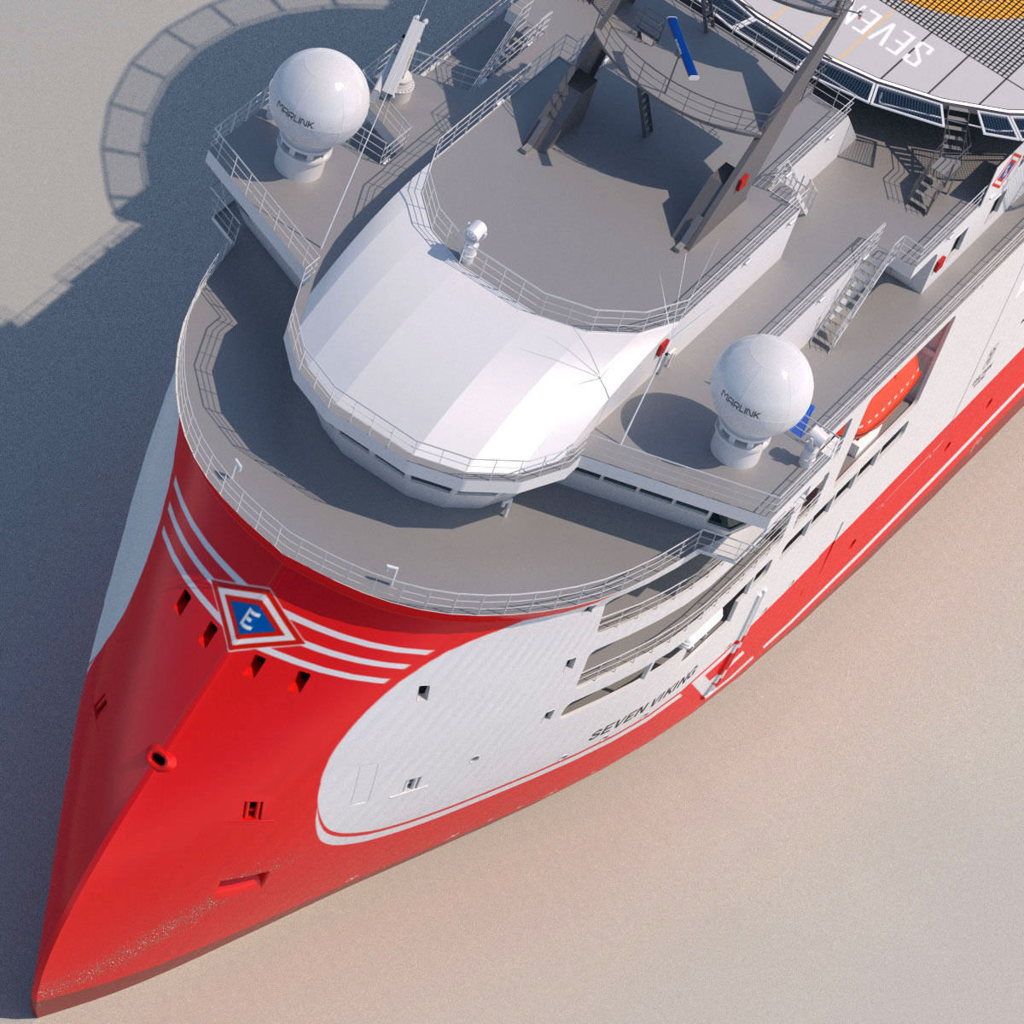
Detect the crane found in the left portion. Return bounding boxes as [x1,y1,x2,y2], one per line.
[362,0,439,112]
